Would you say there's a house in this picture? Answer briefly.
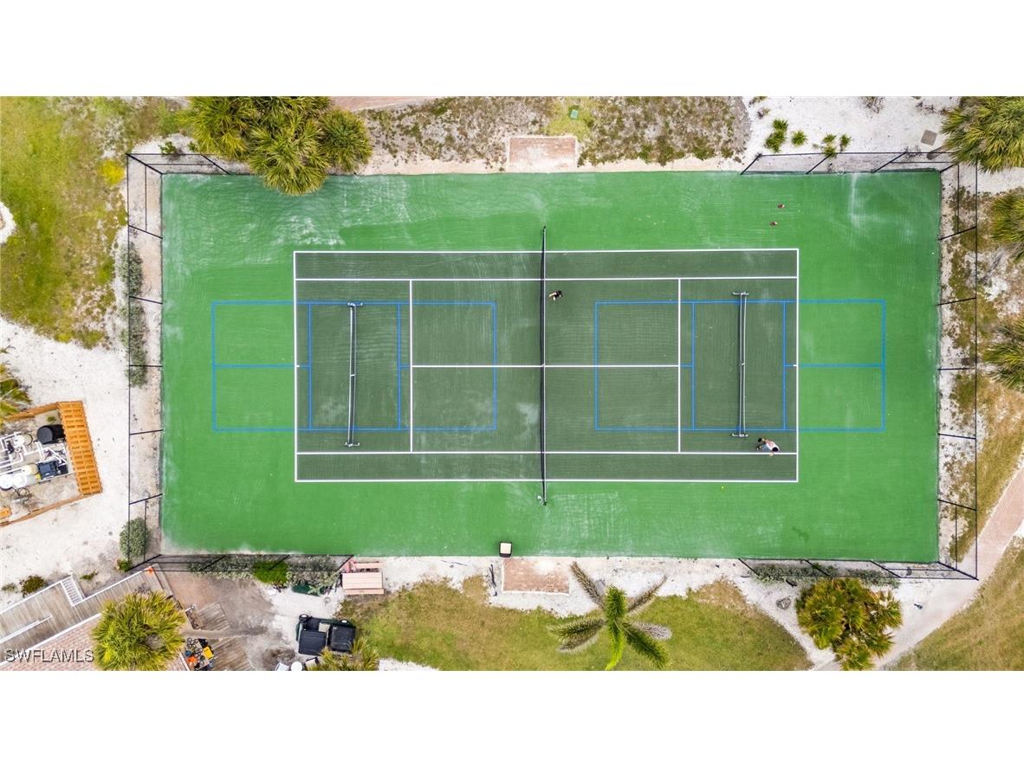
No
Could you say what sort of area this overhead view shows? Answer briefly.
sports ground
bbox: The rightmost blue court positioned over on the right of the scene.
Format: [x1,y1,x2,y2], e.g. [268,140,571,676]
[595,300,885,431]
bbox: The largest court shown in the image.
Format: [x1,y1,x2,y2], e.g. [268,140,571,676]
[160,171,941,562]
